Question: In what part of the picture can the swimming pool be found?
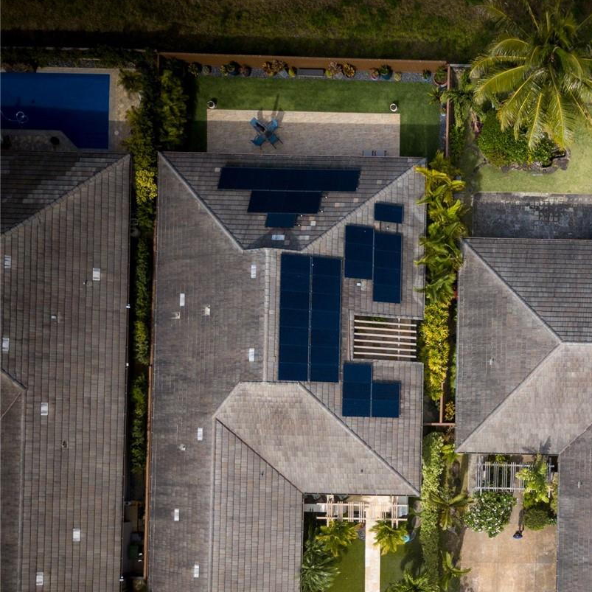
top left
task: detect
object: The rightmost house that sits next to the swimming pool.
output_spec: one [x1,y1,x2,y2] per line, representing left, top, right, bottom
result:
[149,152,430,592]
